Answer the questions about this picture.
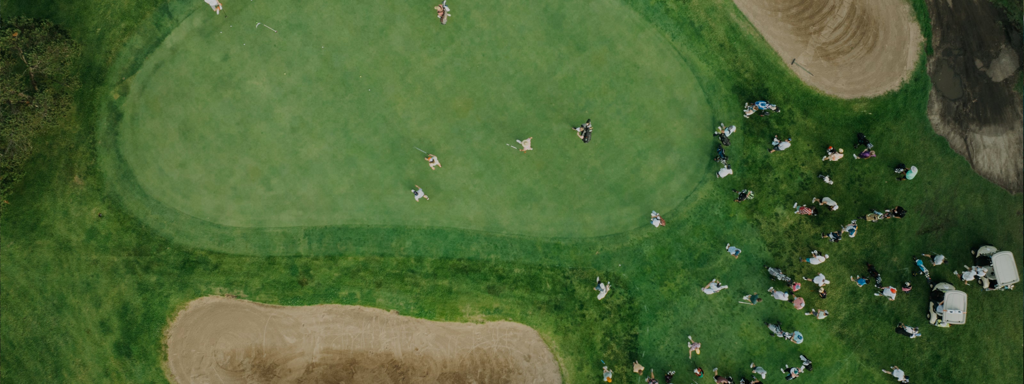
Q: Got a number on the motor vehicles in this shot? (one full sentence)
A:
The count of motor vehicles comes to 2.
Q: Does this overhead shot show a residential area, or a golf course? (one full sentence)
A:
The picture captures a golf course.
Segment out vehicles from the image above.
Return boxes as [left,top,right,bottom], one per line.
[925,282,967,324]
[969,244,1020,288]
